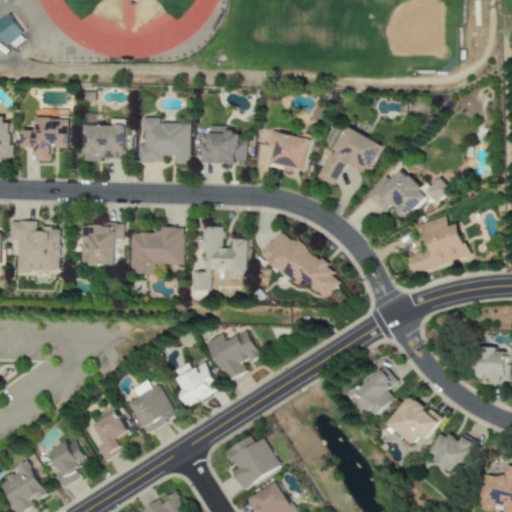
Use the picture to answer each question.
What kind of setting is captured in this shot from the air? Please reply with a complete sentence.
This looks like a residential area.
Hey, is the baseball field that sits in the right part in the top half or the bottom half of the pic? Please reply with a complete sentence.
The baseball field that sits in the right part is in the top half of the image.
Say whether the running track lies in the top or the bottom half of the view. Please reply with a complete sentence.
The running track sits in the top half of the picture.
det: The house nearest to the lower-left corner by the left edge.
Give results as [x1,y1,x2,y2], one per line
[5,460,48,512]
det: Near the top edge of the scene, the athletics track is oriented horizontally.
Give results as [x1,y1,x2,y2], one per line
[40,0,219,58]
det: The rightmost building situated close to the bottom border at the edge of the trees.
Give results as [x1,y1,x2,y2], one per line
[482,464,512,511]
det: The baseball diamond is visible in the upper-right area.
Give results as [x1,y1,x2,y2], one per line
[386,0,450,60]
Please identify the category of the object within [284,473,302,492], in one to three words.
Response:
swimming pool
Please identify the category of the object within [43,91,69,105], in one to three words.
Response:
swimming pool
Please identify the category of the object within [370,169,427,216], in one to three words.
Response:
house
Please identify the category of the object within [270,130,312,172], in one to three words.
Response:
house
